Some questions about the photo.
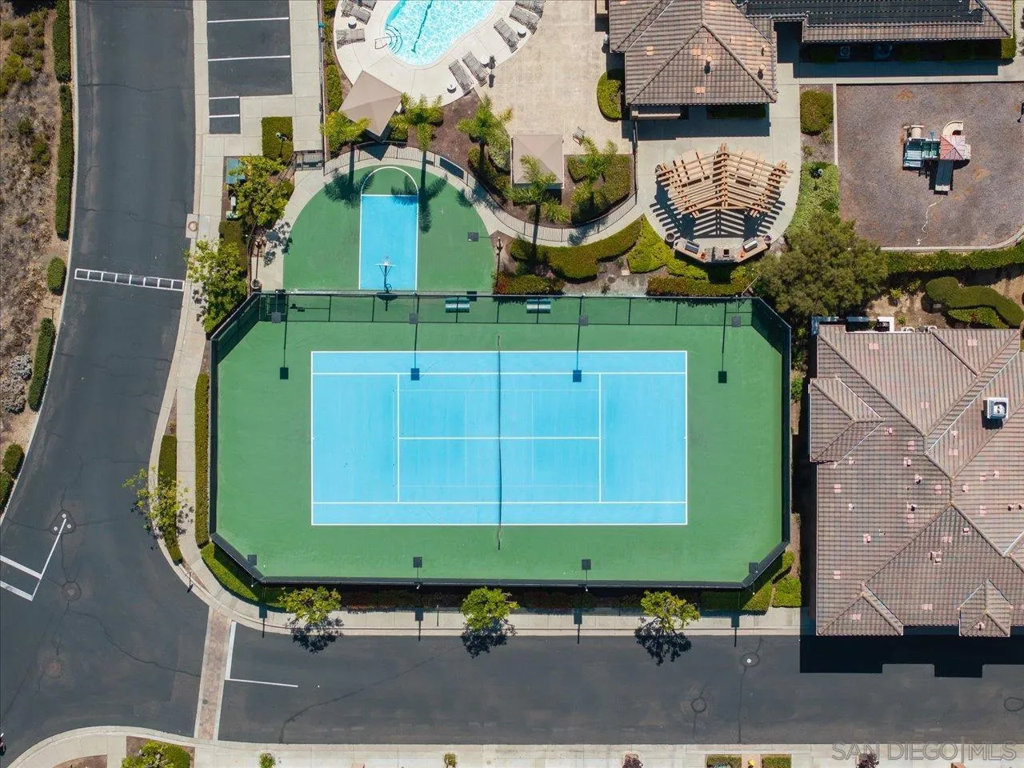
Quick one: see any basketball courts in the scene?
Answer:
Yes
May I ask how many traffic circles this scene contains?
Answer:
0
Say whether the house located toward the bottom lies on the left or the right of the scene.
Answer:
right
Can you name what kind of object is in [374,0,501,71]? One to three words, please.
swimming pool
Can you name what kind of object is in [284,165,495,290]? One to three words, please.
basketball court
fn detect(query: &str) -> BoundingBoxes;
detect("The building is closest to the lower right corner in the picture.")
[798,324,1024,638]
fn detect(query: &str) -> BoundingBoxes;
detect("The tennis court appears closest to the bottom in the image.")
[217,295,782,577]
